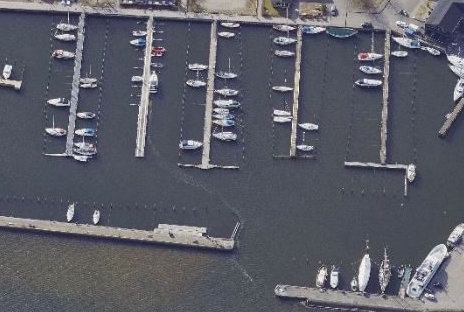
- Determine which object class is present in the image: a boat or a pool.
boat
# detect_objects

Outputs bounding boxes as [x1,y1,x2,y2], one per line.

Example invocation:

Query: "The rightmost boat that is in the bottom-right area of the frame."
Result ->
[445,223,463,246]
